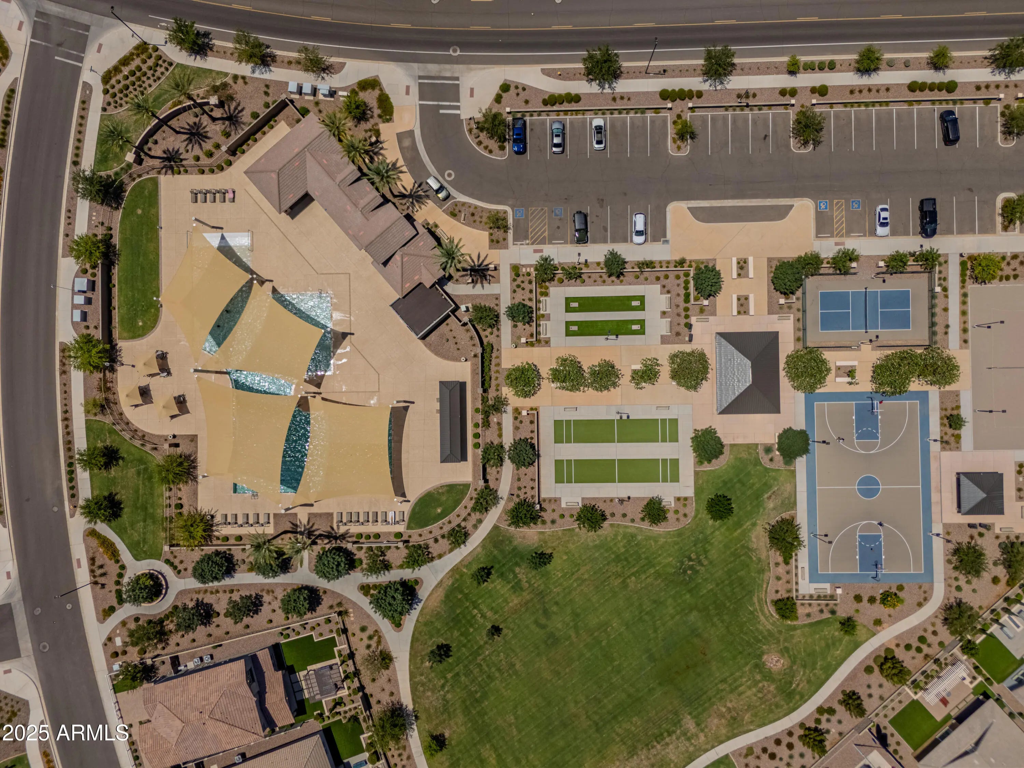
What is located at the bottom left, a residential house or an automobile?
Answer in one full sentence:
The feature located at the bottom left is a residential house.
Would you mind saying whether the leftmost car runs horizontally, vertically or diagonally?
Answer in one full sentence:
The leftmost car is oriented diagonally.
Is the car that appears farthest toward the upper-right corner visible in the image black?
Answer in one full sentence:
Yes, black is the color of the car that appears farthest toward the upper-right corner.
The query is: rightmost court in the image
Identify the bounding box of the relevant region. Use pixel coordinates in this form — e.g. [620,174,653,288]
[968,284,1024,451]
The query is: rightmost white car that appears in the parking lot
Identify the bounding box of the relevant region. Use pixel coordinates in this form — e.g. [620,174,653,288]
[872,204,892,238]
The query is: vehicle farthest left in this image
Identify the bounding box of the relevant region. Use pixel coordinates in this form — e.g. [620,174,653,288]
[425,172,452,203]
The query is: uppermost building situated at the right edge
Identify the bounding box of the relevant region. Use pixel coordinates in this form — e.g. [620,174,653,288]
[950,472,1005,515]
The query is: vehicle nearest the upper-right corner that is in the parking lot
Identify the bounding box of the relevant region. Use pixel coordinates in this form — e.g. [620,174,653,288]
[938,110,961,147]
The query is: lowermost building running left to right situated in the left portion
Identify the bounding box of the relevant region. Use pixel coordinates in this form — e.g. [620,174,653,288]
[249,729,343,768]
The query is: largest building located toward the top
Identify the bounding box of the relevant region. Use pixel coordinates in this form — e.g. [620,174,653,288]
[243,112,445,298]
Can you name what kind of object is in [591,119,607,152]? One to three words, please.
car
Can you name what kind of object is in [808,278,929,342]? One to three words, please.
sports court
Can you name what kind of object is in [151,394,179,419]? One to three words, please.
umbrella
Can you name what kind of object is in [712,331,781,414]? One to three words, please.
building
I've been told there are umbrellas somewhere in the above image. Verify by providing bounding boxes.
[117,383,142,408]
[134,352,160,379]
[151,394,179,419]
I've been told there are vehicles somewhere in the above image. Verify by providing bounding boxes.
[550,122,566,155]
[573,210,589,244]
[631,213,647,246]
[872,204,892,238]
[917,197,940,239]
[425,172,452,203]
[511,117,528,156]
[591,119,607,152]
[938,110,961,147]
